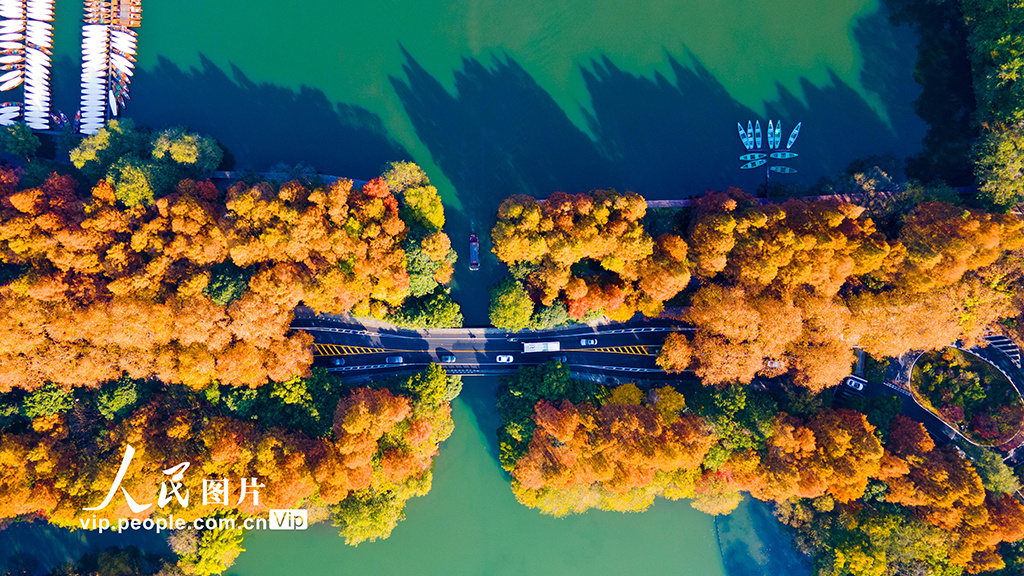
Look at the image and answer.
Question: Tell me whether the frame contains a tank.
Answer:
No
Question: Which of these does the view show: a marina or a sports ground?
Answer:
marina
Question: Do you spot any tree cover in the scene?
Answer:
Yes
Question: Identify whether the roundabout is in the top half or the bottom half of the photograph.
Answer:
bottom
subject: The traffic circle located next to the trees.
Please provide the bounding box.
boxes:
[909,345,1024,447]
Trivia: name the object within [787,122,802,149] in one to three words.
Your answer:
boat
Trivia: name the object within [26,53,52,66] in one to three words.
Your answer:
boat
